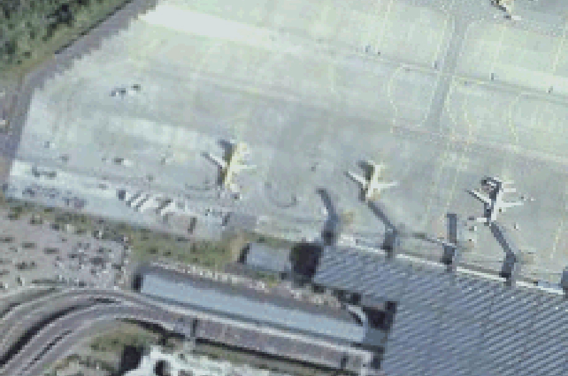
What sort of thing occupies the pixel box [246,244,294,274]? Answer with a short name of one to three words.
building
